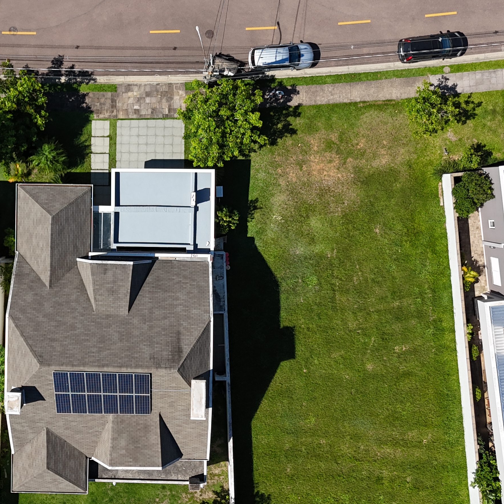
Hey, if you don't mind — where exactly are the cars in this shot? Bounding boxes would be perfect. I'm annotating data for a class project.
[247,40,314,75]
[394,29,460,65]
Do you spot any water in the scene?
No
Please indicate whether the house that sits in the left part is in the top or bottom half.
bottom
